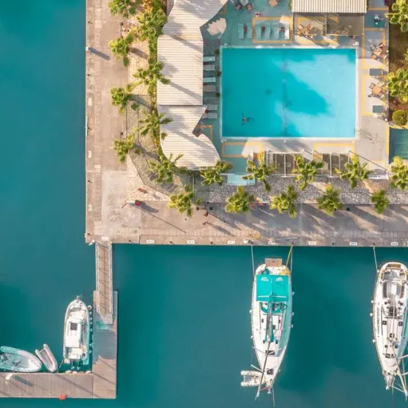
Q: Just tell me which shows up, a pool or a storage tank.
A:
pool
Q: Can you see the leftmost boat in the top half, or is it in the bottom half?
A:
bottom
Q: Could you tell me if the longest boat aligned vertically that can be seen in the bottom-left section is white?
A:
Yes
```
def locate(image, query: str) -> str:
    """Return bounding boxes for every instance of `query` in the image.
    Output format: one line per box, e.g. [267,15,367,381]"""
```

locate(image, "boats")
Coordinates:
[57,297,93,372]
[370,248,408,398]
[0,347,41,373]
[249,243,293,406]
[241,371,264,386]
[37,345,56,372]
